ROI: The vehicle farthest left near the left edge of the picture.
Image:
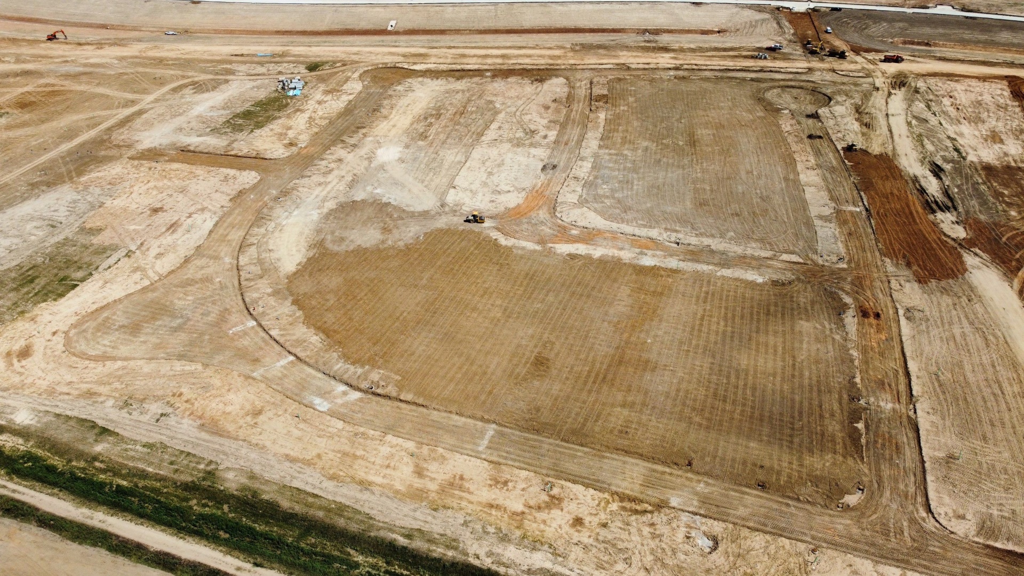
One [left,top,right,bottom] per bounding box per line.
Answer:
[47,27,72,41]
